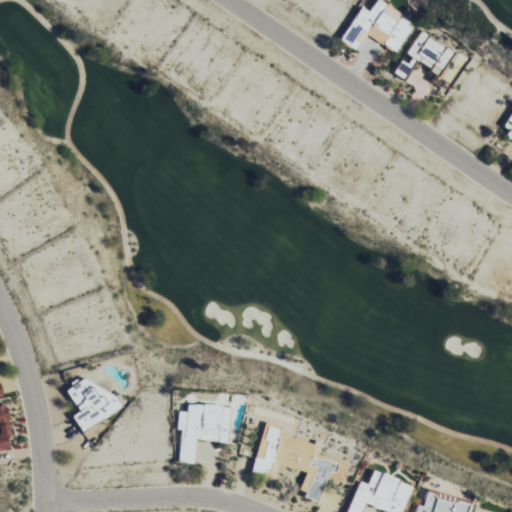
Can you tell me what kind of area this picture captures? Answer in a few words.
golf course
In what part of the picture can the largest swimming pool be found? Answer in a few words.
bottom left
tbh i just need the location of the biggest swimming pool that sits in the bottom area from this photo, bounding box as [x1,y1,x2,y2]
[106,364,130,390]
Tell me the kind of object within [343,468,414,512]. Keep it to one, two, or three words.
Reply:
house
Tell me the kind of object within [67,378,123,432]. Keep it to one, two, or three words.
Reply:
house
